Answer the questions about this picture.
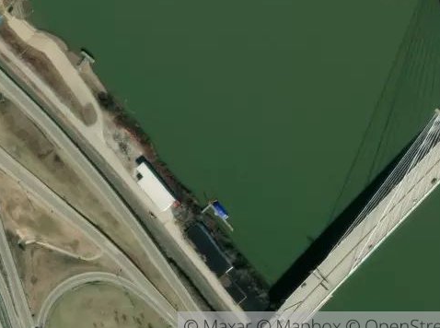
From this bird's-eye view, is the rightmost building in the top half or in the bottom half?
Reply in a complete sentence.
The rightmost building sits in the bottom half of the picture.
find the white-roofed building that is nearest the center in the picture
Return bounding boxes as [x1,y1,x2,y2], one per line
[137,163,181,213]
